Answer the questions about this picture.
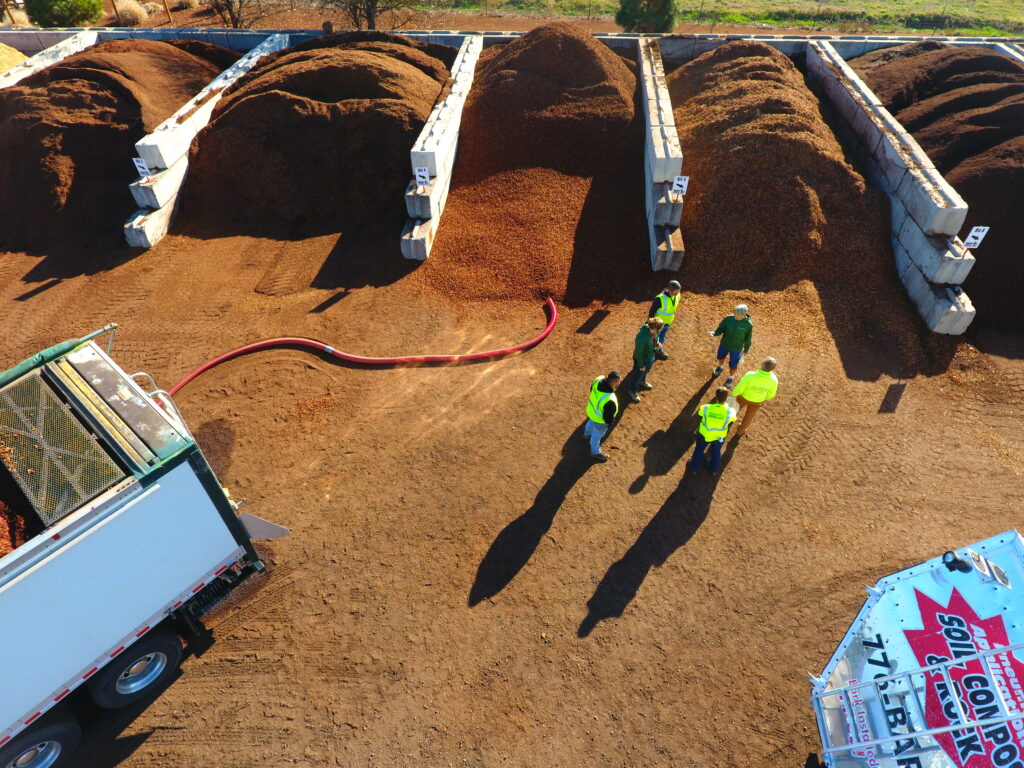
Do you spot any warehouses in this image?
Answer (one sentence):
No, there is no warehouse in the image.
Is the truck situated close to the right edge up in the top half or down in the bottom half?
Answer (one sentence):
The truck situated close to the right edge sits in the bottom half of the picture.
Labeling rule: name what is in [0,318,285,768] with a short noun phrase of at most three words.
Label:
trailer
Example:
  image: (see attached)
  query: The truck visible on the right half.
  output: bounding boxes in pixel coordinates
[806,533,1024,768]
